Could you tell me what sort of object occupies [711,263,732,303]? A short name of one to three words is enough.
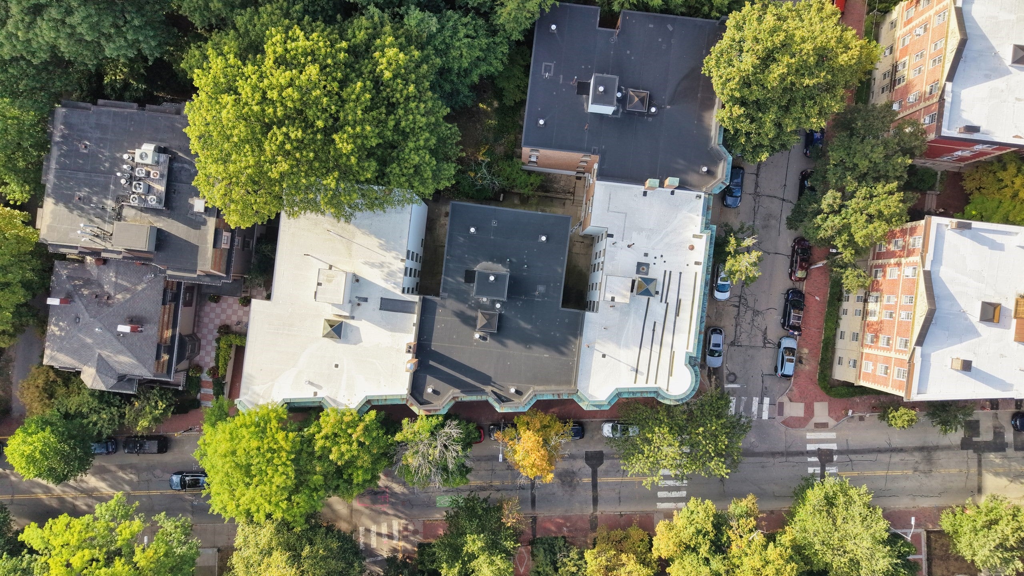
car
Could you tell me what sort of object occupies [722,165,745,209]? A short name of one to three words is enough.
car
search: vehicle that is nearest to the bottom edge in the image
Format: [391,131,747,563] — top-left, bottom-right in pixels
[169,471,212,493]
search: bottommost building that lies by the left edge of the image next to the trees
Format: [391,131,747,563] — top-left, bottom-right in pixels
[43,256,213,394]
